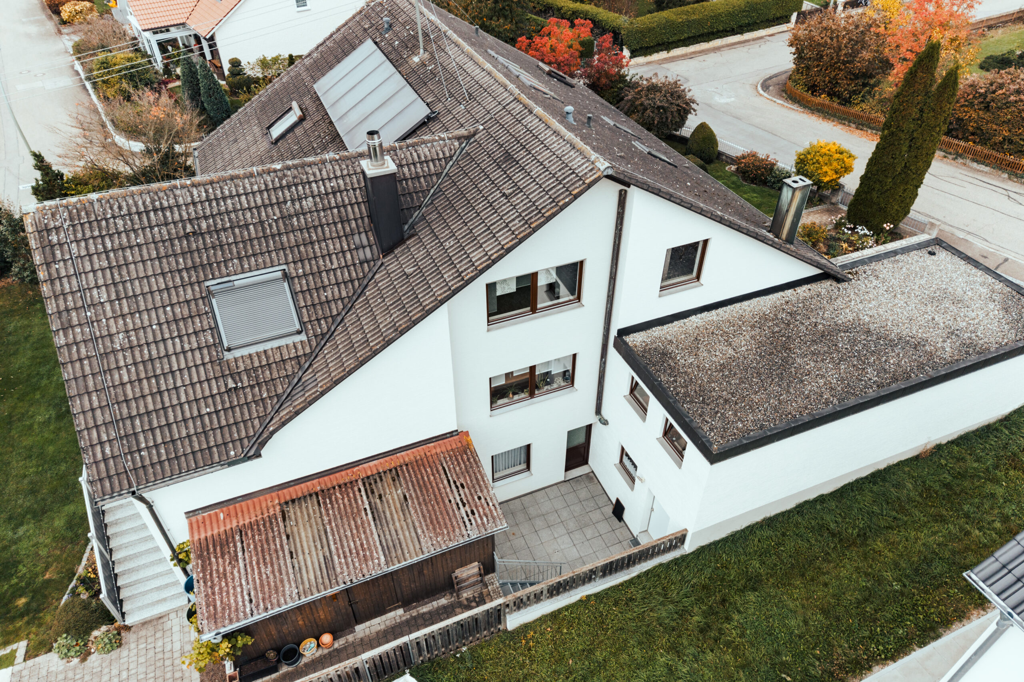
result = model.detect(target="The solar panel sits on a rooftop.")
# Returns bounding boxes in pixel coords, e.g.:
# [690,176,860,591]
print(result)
[309,34,435,146]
